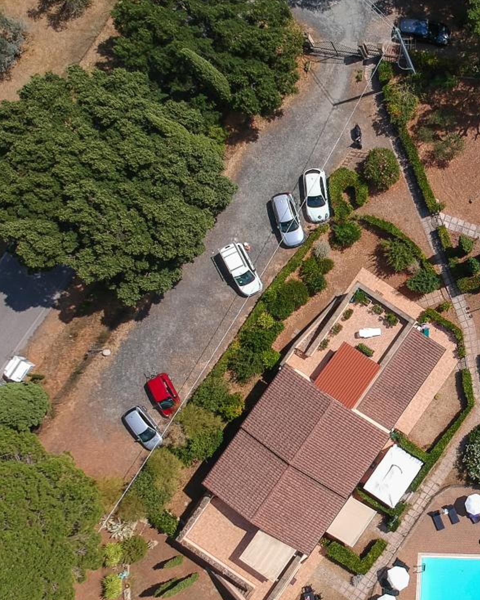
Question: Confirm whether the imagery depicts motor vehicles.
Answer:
Yes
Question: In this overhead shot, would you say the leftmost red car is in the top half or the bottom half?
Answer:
bottom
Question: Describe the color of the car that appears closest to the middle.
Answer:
white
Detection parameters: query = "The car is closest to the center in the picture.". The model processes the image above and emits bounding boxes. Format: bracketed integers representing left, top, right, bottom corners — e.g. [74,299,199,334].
[220,242,262,299]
